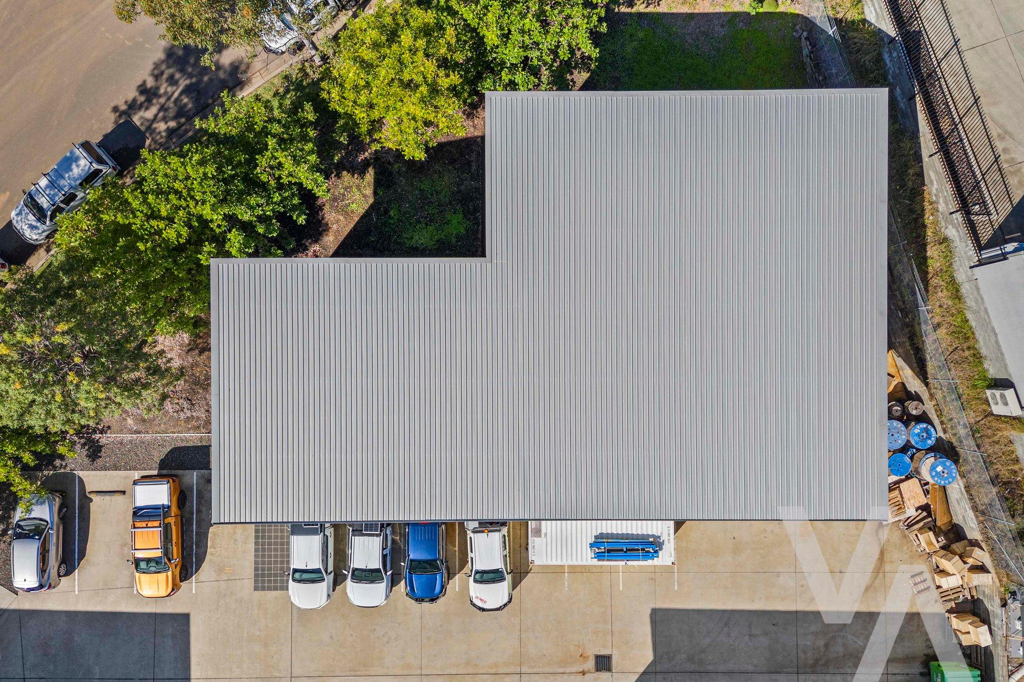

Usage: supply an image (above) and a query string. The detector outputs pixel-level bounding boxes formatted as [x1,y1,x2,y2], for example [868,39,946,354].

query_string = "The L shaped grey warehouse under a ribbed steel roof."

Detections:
[211,88,888,524]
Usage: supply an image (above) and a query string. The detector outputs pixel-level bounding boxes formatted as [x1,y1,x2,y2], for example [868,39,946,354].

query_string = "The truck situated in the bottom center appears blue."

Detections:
[400,522,451,609]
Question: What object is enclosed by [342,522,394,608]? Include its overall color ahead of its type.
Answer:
white truck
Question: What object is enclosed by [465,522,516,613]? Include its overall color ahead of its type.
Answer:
white truck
